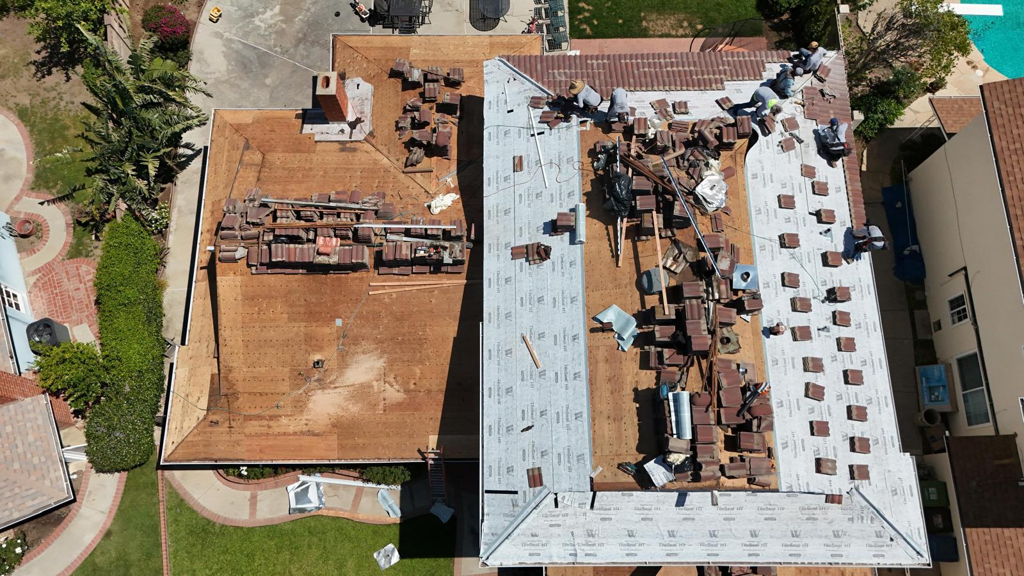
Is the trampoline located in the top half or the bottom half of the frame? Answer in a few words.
top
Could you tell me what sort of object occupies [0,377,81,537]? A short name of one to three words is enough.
house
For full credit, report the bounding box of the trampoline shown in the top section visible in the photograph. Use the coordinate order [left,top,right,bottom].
[701,0,787,52]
